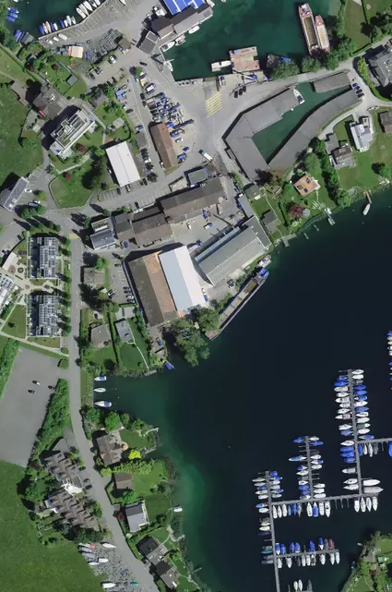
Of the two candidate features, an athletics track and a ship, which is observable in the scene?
ship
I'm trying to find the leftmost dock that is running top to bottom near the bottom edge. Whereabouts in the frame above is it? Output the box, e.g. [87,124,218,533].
[258,471,280,592]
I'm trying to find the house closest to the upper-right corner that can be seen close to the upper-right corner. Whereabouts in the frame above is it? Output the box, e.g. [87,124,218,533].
[368,48,392,87]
